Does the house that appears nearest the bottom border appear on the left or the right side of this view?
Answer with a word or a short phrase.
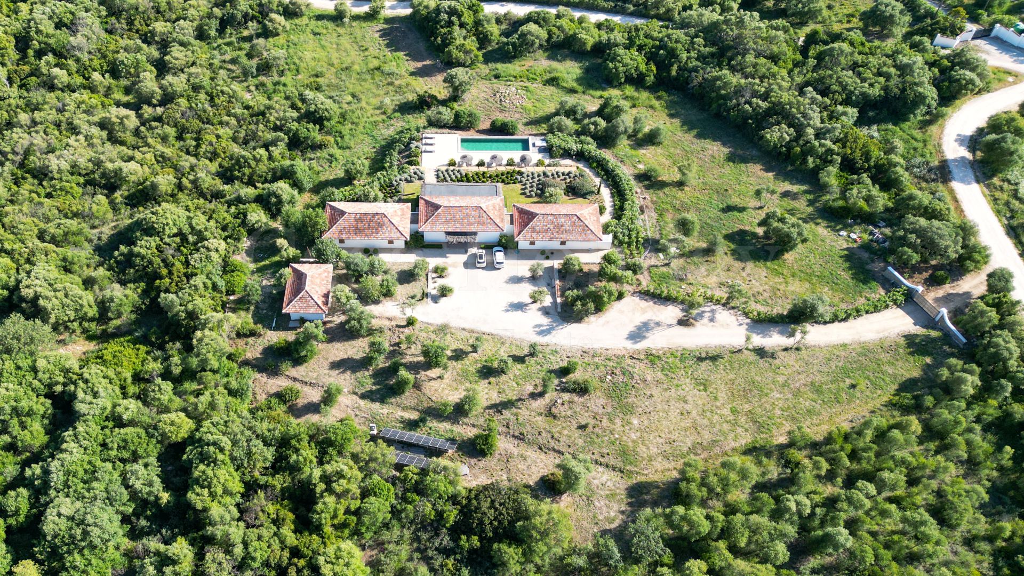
left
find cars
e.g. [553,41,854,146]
[474,250,487,269]
[492,248,505,269]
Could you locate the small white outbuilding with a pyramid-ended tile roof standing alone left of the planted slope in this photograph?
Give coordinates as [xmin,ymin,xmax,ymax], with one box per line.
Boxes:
[282,263,332,322]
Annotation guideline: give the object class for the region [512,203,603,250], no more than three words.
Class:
house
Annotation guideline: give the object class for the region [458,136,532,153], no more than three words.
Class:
swimming pool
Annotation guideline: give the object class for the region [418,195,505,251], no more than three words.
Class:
house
